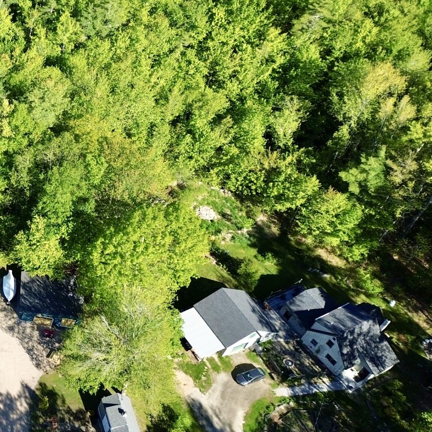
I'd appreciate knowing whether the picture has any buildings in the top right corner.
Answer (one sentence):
No, in the top right corner there is no building.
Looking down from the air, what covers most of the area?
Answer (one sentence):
The scene is dominated by trees.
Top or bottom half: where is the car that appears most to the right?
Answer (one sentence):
You can find the car that appears most to the right in the bottom half.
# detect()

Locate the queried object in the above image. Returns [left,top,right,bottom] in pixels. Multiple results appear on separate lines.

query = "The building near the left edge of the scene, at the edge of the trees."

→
[19,271,78,326]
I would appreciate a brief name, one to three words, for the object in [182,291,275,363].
barn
